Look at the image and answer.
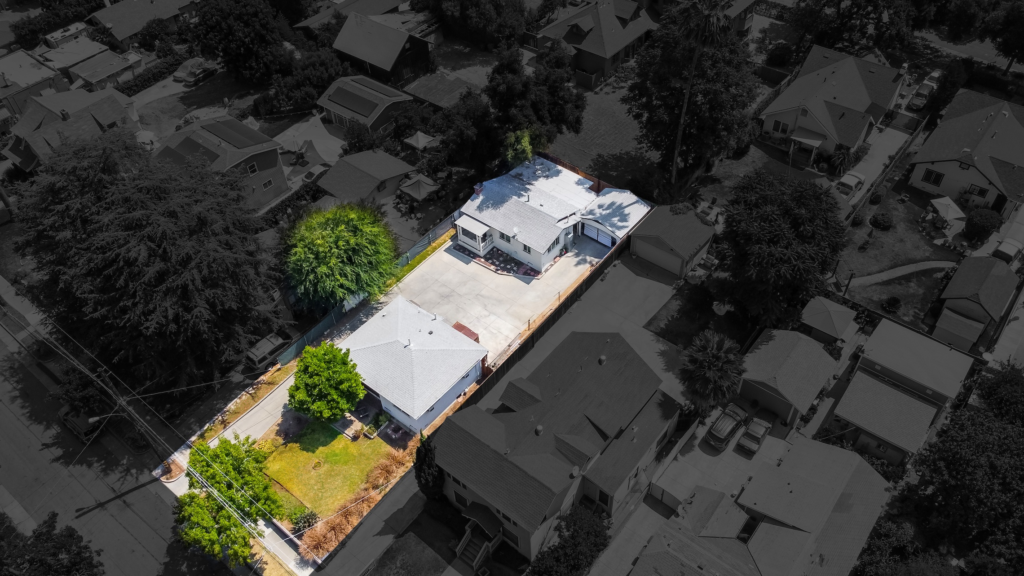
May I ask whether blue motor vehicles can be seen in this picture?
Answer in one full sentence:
No, I can see no blue motor vehicle in this picture.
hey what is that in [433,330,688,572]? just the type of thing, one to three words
house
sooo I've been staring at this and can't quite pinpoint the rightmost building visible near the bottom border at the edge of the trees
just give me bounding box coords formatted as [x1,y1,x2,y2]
[623,423,890,576]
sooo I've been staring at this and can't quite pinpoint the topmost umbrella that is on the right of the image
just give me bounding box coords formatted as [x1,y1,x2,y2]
[930,198,965,221]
